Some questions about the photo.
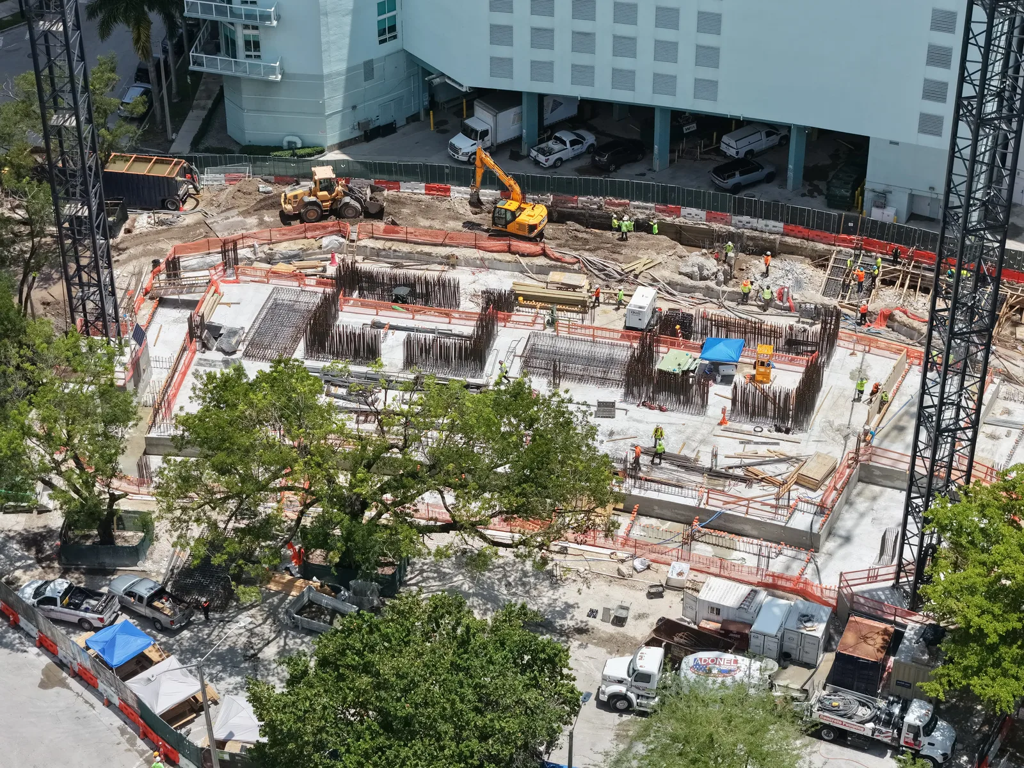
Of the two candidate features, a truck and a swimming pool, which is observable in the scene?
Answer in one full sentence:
Looking from above, you can make out a truck.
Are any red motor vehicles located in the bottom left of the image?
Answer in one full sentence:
No, the scene shows no red motor vehicle in the bottom left of the image.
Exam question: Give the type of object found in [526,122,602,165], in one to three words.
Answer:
truck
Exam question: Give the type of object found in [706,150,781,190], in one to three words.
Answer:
car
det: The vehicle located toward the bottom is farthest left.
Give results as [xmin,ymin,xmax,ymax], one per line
[12,568,120,631]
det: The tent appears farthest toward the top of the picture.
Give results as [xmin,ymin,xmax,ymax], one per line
[698,337,744,386]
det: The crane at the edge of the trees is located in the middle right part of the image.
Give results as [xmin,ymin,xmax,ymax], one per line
[886,0,1024,613]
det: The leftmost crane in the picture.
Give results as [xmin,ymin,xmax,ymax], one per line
[24,0,129,347]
